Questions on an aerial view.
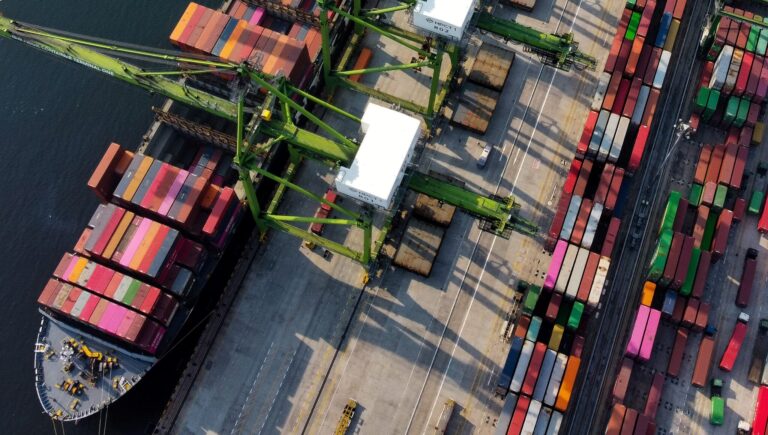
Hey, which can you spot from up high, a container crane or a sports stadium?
container crane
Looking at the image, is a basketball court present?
No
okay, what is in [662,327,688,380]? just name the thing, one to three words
shipping container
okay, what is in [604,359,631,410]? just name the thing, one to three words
shipping container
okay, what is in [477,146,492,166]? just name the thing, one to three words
vehicle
